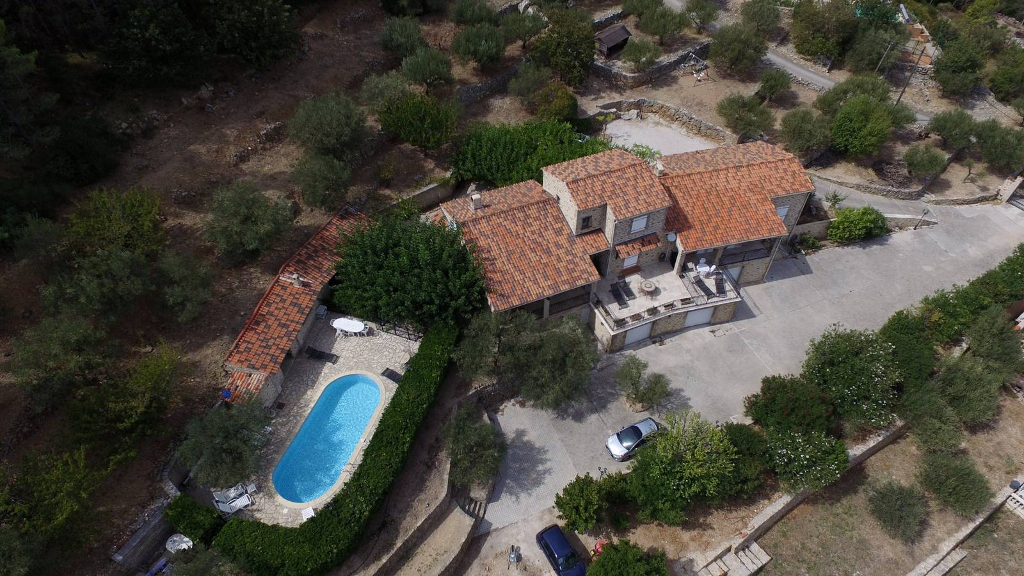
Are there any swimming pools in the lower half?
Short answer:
Yes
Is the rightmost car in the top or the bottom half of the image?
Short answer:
bottom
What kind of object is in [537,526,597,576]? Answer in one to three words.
car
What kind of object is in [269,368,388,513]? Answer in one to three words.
swimming pool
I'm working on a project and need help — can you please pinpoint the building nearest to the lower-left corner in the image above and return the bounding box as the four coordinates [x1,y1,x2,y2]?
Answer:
[222,205,387,425]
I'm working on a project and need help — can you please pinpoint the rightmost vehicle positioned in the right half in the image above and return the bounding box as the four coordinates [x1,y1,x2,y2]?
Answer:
[605,411,669,460]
